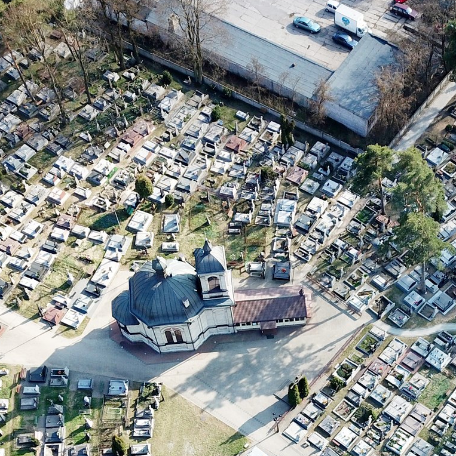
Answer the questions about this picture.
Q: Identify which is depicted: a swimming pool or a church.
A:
church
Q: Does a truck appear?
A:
Yes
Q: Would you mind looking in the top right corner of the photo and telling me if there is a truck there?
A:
Yes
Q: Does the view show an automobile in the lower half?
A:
No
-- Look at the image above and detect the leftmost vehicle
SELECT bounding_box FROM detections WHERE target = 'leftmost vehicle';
[293,14,322,33]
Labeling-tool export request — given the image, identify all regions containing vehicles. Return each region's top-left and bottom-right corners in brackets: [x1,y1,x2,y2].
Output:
[329,3,370,41]
[293,14,322,33]
[390,0,415,21]
[324,0,345,14]
[330,29,359,49]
